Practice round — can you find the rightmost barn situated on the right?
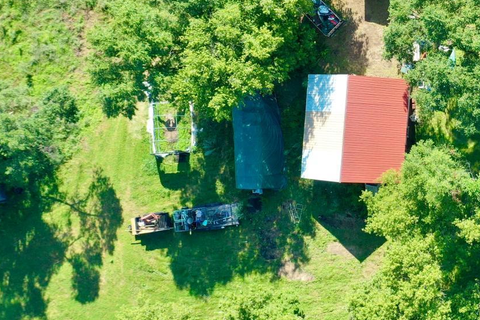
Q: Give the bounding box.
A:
[302,73,414,185]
